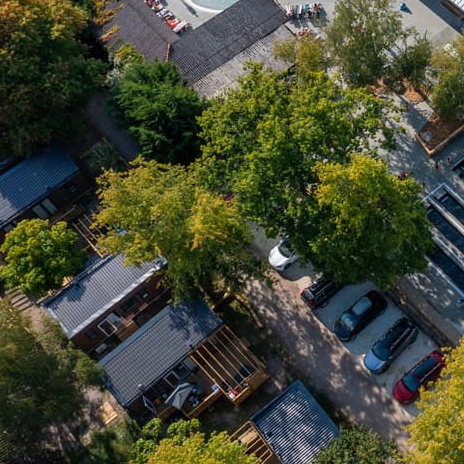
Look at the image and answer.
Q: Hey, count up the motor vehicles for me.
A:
five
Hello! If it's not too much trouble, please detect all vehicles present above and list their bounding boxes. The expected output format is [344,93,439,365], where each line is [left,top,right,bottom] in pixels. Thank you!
[361,311,420,371]
[391,343,451,404]
[331,285,390,341]
[265,219,312,263]
[295,261,351,311]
